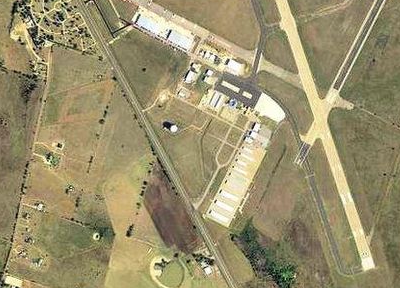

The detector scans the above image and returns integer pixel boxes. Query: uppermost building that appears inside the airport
[136,16,168,38]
